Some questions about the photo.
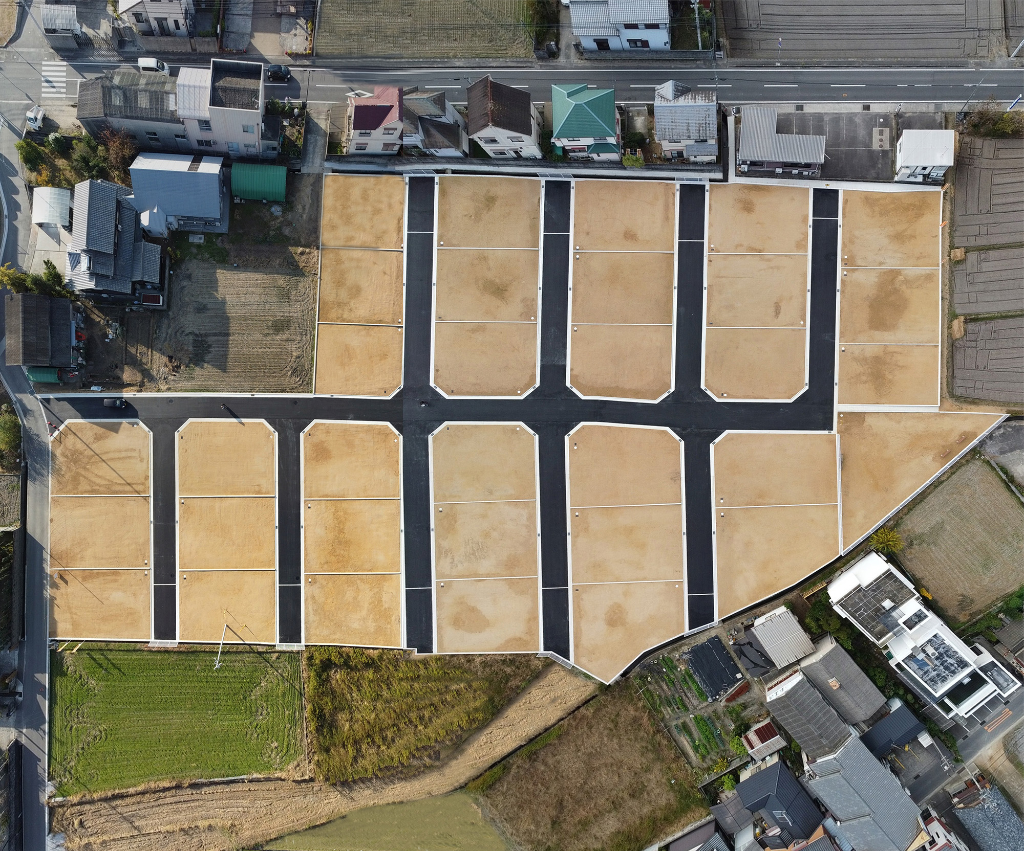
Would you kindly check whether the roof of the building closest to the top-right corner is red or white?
white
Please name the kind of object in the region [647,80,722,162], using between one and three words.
house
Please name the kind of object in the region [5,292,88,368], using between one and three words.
barn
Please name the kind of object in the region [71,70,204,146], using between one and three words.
building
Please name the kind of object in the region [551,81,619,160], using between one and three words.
house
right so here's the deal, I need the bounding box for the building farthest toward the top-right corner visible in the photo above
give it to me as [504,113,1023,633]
[883,128,961,178]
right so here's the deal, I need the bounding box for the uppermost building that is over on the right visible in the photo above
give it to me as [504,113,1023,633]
[570,0,671,49]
